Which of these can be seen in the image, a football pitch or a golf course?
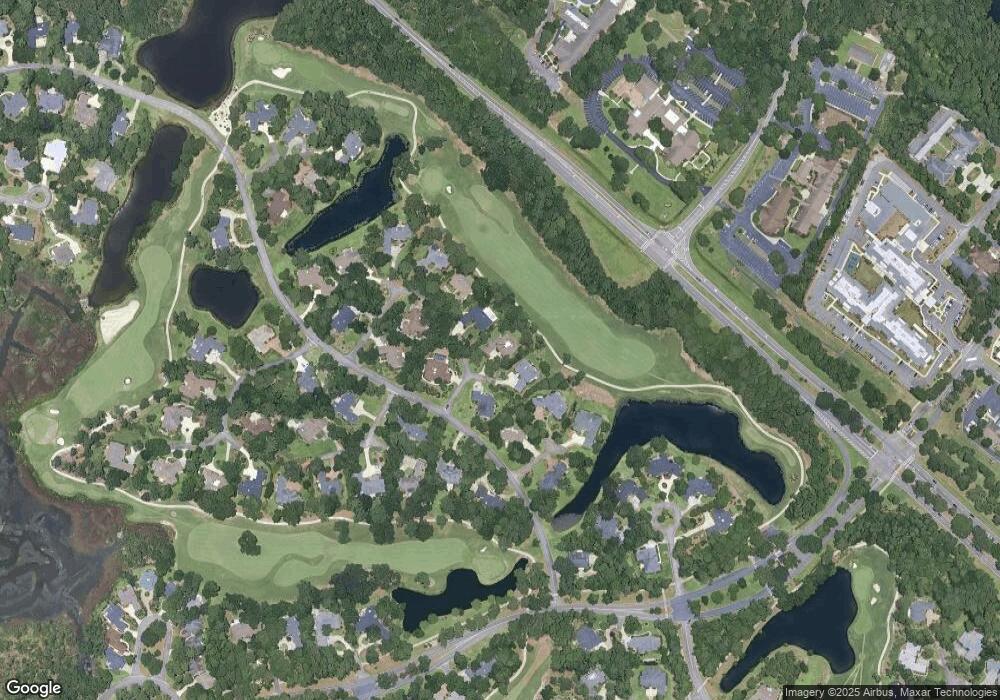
golf course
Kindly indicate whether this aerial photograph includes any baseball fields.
No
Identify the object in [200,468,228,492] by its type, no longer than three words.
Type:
house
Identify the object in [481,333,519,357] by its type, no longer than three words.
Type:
house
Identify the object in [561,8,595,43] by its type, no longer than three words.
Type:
building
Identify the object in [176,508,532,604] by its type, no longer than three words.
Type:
golf course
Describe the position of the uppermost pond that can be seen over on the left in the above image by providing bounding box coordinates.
[137,0,292,107]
